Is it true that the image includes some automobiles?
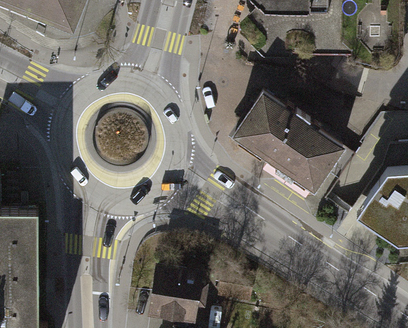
Yes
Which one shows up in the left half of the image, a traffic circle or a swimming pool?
traffic circle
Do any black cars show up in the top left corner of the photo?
Yes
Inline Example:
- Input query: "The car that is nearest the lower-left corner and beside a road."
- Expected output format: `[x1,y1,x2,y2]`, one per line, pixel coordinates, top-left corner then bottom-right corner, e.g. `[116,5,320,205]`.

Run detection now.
[97,294,110,321]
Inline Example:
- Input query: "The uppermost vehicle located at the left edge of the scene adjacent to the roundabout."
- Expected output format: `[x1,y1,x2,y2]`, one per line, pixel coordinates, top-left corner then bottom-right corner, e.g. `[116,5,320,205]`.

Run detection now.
[8,92,36,115]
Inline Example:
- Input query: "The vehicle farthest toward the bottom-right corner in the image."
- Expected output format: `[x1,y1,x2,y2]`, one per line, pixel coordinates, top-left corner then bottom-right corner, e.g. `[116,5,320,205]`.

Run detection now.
[208,302,222,328]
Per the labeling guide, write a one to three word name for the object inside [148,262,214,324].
house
